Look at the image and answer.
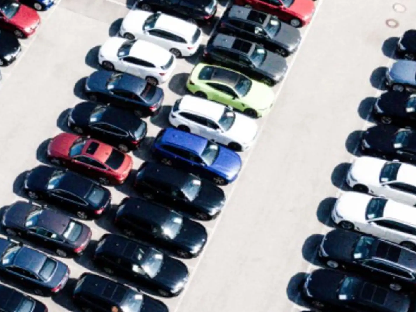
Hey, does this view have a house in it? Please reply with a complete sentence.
No, no house is visible in the view.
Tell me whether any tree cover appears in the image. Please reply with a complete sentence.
No, no tree cover is visible.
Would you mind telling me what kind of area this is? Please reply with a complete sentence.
It's a parking lot.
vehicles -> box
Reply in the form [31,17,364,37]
[127,159,226,223]
[0,27,22,68]
[0,0,43,40]
[90,231,189,299]
[110,196,207,260]
[397,27,416,58]
[137,0,215,26]
[0,201,94,260]
[165,93,258,153]
[183,62,272,118]
[41,133,133,187]
[384,57,416,90]
[103,41,182,87]
[68,270,171,312]
[348,157,416,209]
[302,268,415,312]
[359,122,416,167]
[80,70,168,120]
[371,89,416,129]
[319,230,416,292]
[119,10,201,58]
[200,31,286,87]
[231,0,314,27]
[213,3,302,57]
[147,125,240,187]
[20,165,113,222]
[0,283,52,312]
[66,102,147,153]
[333,191,416,250]
[0,237,74,300]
